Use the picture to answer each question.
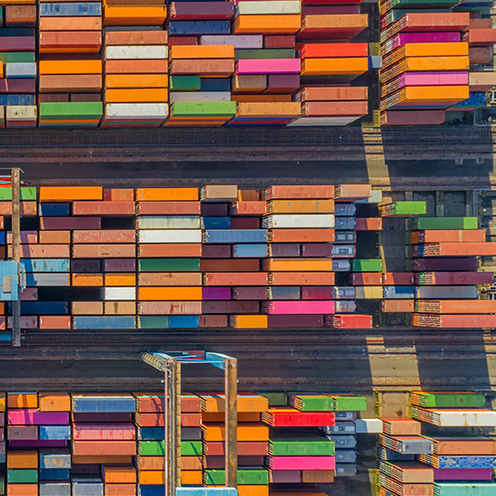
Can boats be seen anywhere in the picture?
No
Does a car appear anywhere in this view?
No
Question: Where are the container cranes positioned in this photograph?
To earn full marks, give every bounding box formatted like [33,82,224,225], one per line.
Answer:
[0,166,27,342]
[137,349,243,496]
